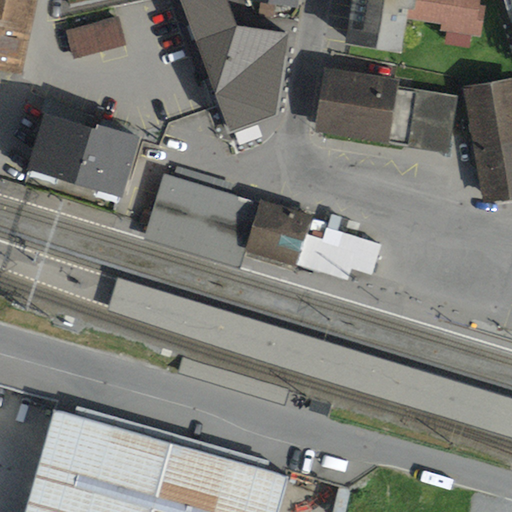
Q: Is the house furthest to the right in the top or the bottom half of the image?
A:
top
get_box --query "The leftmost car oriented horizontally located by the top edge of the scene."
[73,16,95,28]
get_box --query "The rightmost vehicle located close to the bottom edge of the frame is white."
[414,468,455,489]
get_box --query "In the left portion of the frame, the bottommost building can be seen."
[26,405,287,512]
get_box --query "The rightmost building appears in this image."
[464,80,512,200]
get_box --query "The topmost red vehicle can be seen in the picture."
[152,10,174,22]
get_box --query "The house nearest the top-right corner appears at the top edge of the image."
[408,0,486,48]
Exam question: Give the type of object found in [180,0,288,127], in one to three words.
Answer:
building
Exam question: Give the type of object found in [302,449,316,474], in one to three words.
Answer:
vehicle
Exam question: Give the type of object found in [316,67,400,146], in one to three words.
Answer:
house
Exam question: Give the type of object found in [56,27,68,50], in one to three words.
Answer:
vehicle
